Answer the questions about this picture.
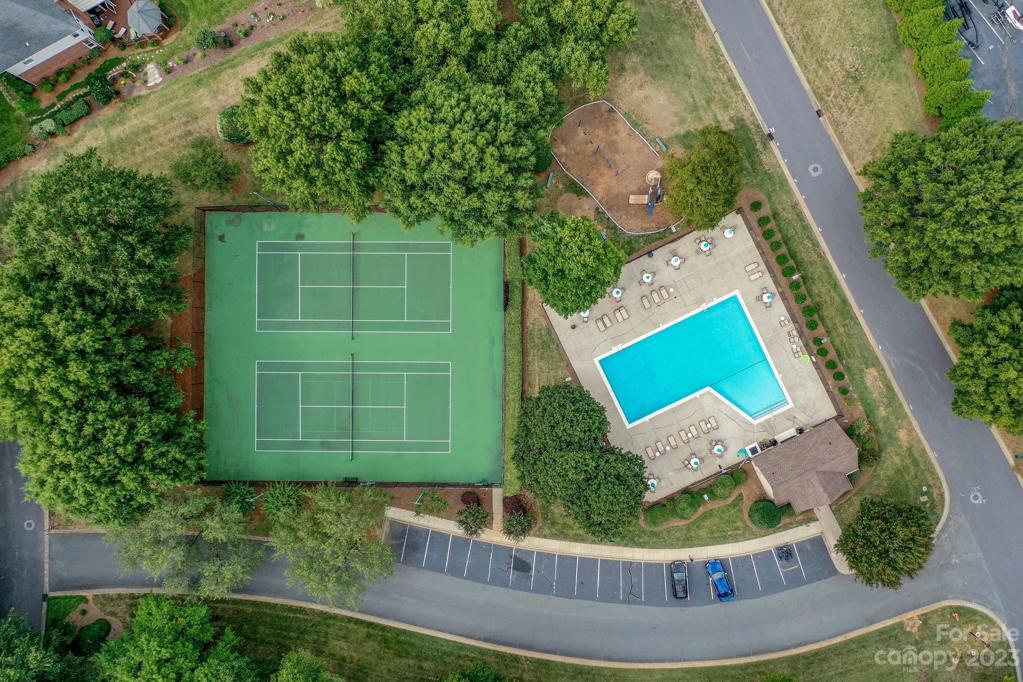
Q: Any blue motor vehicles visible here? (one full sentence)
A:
Yes, a blue motor vehicle is visible in the scene.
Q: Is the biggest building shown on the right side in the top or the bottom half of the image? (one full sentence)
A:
It is in the bottom half that the biggest building shown on the right side appears.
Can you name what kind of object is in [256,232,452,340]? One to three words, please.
tennis court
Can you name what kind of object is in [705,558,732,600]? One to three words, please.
car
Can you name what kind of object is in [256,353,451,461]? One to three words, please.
tennis court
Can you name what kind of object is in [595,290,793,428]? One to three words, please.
swimming pool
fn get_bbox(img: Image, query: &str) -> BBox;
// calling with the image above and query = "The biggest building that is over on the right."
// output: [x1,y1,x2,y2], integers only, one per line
[746,418,859,514]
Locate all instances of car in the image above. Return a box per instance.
[670,559,689,600]
[705,558,732,600]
